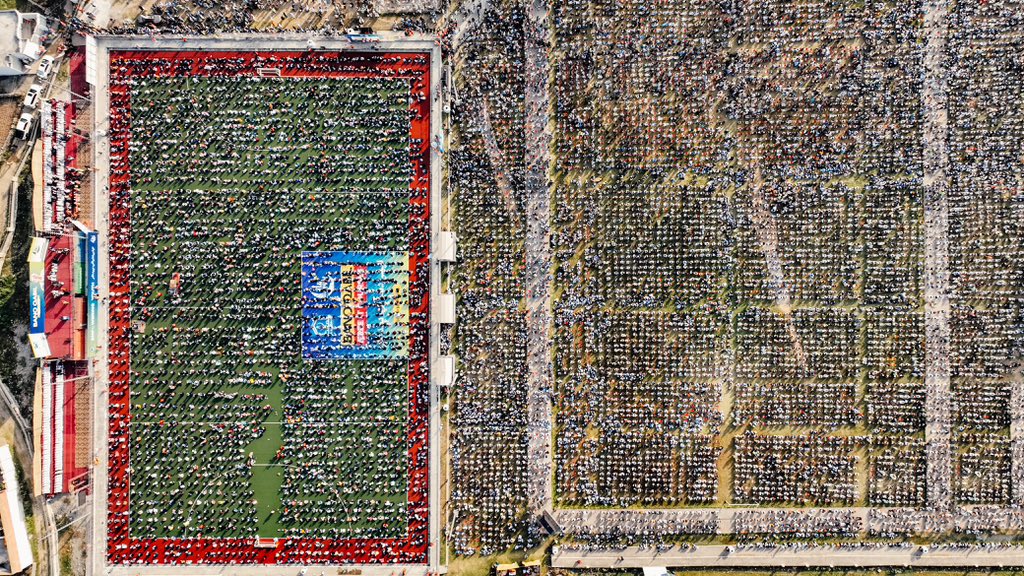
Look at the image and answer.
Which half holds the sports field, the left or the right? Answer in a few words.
left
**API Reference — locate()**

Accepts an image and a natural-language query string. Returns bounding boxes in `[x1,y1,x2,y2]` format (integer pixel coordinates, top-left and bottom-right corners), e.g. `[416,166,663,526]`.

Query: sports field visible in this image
[108,51,429,563]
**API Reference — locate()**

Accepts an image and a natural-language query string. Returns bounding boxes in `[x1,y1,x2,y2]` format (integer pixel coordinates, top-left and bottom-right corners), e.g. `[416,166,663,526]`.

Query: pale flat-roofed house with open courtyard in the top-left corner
[0,10,53,63]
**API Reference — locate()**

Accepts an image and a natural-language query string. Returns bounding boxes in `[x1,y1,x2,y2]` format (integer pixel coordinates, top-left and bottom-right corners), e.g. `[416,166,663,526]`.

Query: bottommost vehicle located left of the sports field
[14,113,35,138]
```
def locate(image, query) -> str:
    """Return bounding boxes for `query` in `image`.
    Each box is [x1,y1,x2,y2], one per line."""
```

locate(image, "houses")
[0,436,40,576]
[0,10,53,63]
